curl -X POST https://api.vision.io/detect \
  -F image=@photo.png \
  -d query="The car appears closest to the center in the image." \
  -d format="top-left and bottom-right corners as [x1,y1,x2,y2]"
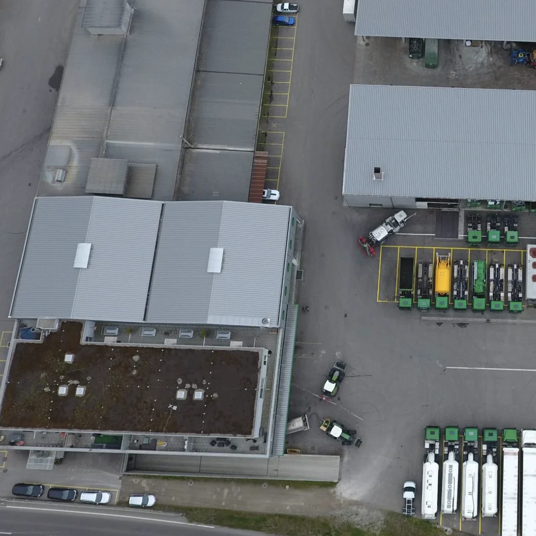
[263,188,281,200]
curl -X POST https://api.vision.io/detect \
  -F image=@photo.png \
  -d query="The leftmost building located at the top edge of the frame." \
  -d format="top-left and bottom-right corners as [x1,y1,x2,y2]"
[35,0,280,204]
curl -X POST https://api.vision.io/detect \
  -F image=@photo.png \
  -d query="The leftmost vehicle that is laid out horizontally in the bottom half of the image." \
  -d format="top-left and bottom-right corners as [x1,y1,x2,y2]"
[10,482,47,499]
